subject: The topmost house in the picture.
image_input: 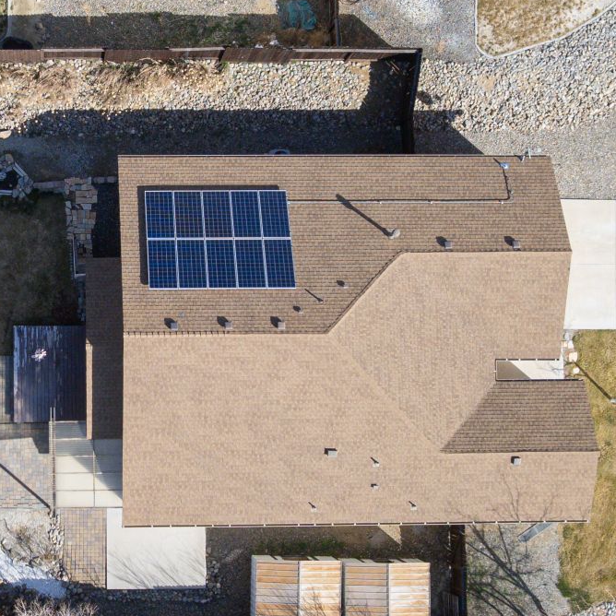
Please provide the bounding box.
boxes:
[84,153,600,531]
